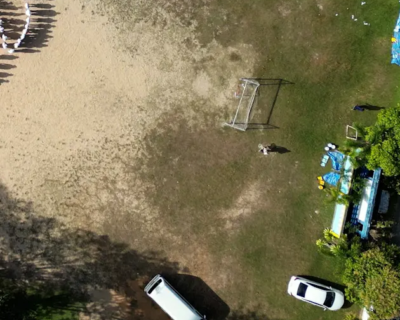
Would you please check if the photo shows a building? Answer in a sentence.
No, I can see no building in this picture.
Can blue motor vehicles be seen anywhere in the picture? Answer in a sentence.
No, there appears to be no blue motor vehicle in this shot.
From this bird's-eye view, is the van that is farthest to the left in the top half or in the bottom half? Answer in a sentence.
You can find the van that is farthest to the left in the bottom half.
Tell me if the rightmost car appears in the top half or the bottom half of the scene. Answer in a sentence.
It is in the bottom half that the rightmost car appears.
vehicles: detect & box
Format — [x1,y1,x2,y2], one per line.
[287,276,344,310]
[143,272,207,320]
